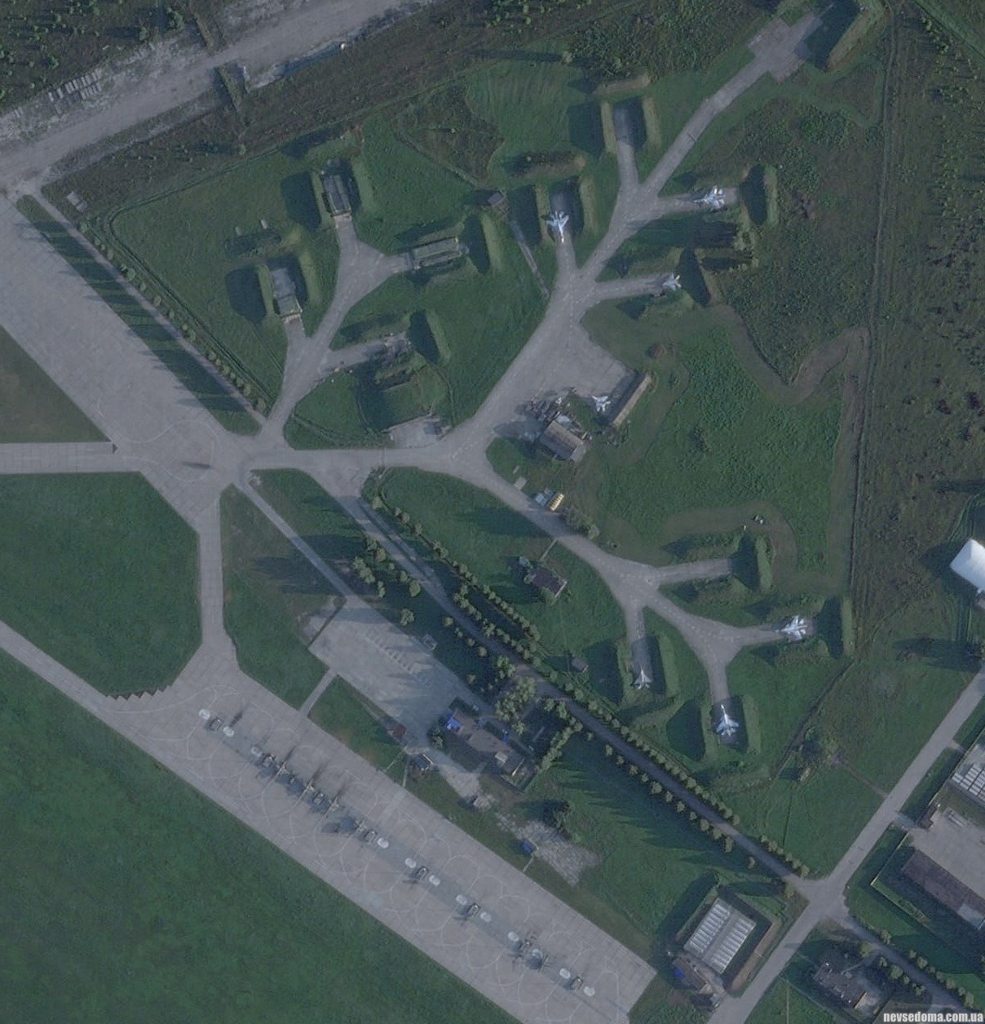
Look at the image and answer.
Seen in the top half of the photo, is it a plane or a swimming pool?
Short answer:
plane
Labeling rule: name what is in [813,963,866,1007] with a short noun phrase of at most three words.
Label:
house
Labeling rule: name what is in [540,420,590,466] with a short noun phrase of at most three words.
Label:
building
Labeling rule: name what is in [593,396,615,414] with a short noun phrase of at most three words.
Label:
airplane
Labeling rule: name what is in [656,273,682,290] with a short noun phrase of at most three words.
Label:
airplane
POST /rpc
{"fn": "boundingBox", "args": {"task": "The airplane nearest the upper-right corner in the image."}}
[695,187,727,208]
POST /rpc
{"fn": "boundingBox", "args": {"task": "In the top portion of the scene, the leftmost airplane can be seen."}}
[550,212,570,241]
